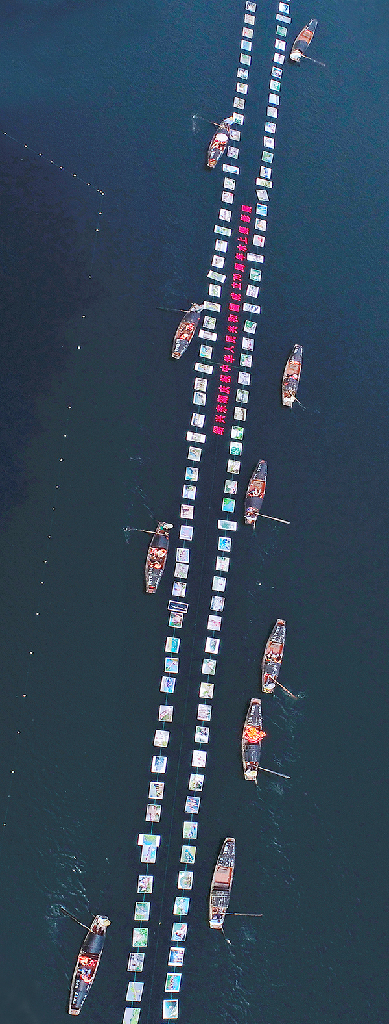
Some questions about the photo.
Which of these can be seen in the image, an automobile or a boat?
boat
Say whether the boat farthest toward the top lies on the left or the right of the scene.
right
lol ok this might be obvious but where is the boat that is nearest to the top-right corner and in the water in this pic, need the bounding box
[290,18,318,65]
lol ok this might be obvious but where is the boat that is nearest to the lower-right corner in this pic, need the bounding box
[210,836,234,929]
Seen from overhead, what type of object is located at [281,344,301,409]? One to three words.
boat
